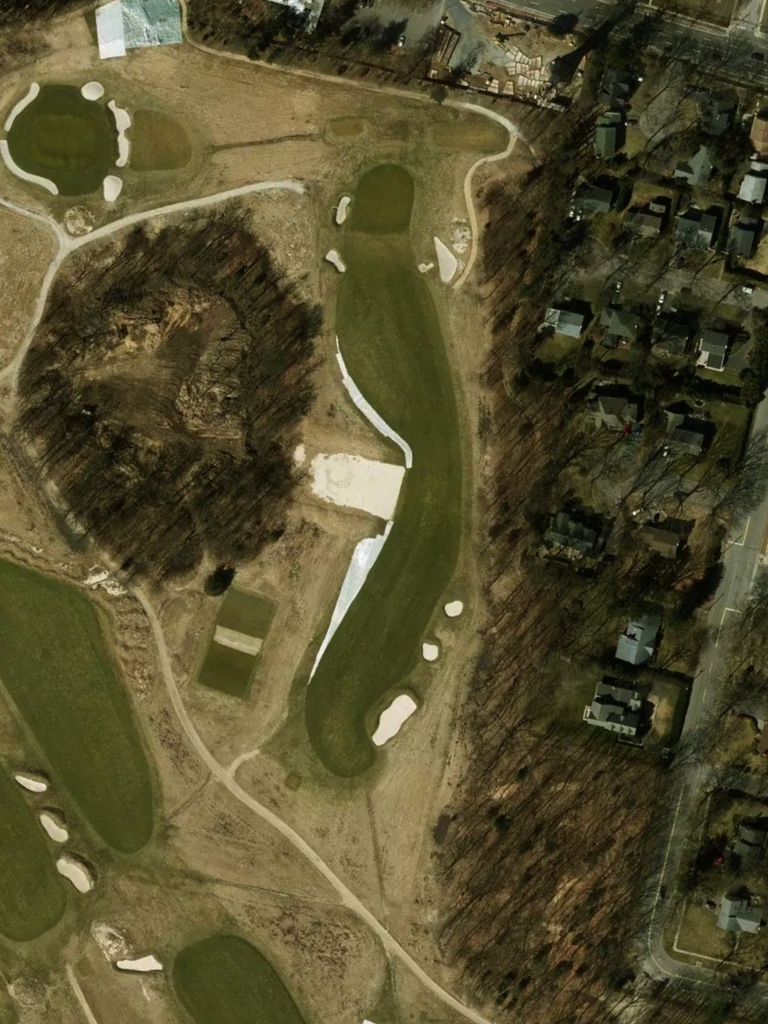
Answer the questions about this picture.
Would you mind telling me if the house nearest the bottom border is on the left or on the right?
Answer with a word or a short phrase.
right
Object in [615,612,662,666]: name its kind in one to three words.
house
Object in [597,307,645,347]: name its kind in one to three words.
house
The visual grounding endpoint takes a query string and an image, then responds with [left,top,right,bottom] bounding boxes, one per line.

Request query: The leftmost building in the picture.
[262,0,322,33]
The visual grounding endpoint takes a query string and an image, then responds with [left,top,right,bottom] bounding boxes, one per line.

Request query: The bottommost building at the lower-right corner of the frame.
[716,894,765,931]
